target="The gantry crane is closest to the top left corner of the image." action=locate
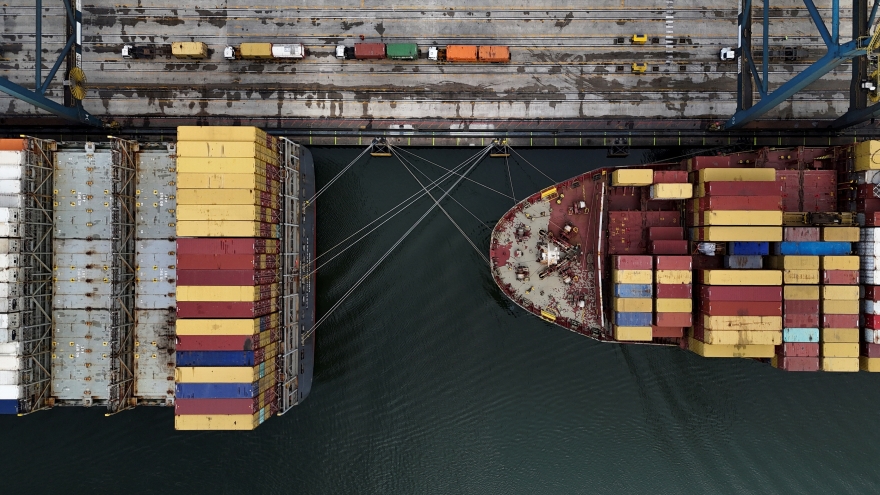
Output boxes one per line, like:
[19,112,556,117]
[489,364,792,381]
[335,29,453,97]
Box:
[0,0,130,132]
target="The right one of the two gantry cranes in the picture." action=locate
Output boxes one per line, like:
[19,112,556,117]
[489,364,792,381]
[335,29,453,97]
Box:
[697,0,880,132]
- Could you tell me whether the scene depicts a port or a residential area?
port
